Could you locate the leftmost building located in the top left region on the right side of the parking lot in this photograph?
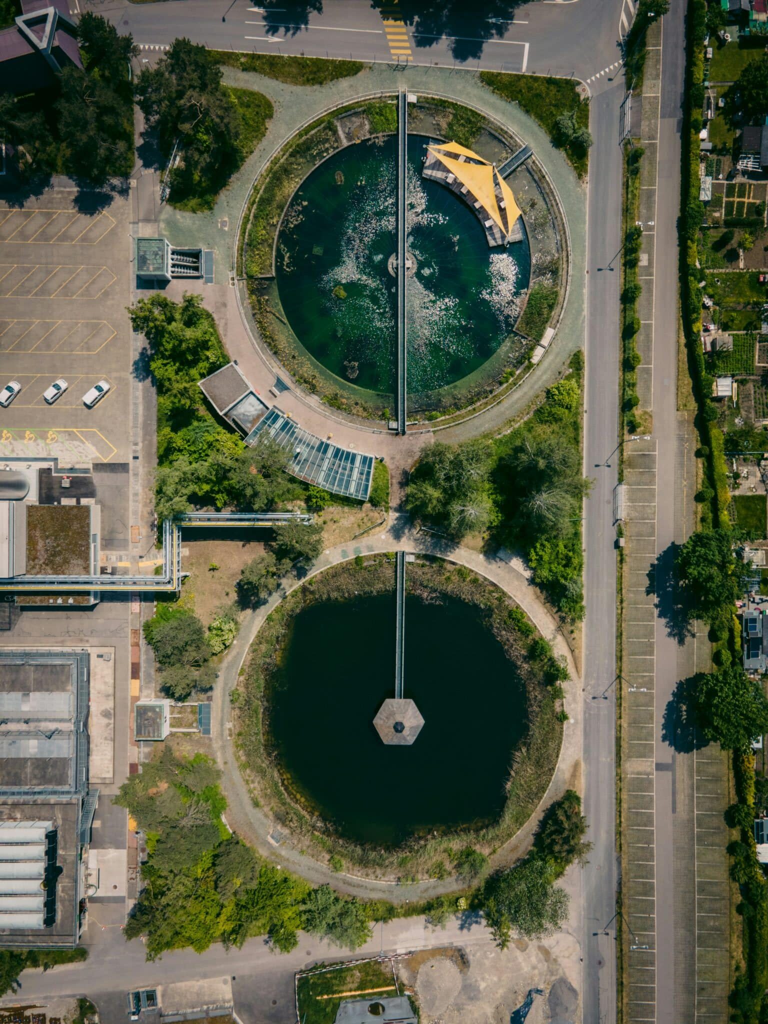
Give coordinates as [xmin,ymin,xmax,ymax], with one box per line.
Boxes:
[137,238,172,281]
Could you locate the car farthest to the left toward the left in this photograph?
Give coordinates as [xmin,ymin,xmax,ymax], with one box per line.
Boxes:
[0,380,20,407]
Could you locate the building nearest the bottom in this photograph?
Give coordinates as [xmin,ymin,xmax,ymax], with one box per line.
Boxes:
[335,987,425,1024]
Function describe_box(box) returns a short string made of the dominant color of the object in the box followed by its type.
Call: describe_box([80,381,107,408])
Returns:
white car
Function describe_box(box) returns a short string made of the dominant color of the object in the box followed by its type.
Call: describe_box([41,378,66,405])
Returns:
white car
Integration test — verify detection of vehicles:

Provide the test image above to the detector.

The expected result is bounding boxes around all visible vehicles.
[41,378,66,405]
[80,381,107,408]
[0,380,20,407]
